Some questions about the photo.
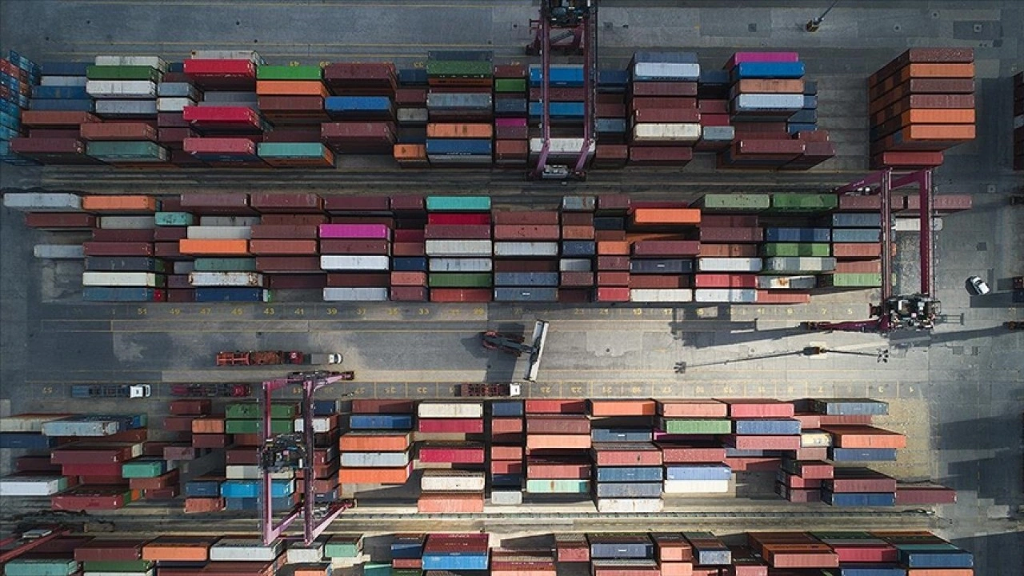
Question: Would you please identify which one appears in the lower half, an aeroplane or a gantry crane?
gantry crane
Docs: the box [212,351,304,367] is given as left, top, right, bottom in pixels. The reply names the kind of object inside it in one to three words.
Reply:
vehicle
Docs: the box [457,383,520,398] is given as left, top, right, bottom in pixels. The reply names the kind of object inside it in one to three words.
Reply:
vehicle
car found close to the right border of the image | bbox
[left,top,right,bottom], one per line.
[969,275,990,296]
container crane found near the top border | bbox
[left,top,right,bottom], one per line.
[517,0,594,175]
